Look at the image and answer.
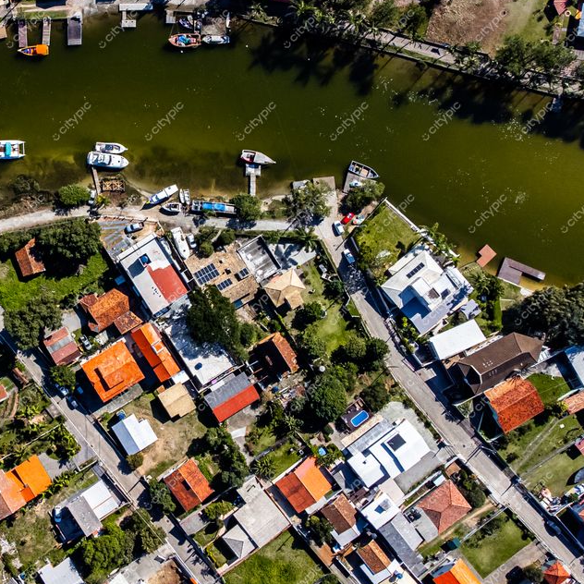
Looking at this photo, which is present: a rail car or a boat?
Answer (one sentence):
The image shows a boat.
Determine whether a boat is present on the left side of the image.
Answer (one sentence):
Yes, there is a boat on the left side of the image.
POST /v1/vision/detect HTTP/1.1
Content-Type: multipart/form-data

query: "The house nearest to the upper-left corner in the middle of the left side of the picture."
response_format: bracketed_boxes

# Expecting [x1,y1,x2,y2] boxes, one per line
[15,239,45,276]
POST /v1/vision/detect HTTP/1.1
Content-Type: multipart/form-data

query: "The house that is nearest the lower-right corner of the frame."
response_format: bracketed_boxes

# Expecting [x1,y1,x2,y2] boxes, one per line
[541,560,571,584]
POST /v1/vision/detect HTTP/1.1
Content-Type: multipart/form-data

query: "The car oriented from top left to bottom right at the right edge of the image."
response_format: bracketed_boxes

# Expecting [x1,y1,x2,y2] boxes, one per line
[546,521,561,537]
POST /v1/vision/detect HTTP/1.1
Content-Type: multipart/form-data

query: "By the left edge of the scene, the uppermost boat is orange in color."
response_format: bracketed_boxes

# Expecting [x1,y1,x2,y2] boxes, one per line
[17,43,48,57]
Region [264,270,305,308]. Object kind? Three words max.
house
